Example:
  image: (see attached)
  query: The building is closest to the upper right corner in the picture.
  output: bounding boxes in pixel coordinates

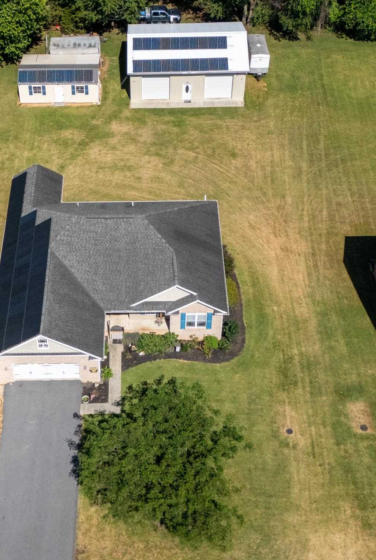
[128,22,250,101]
